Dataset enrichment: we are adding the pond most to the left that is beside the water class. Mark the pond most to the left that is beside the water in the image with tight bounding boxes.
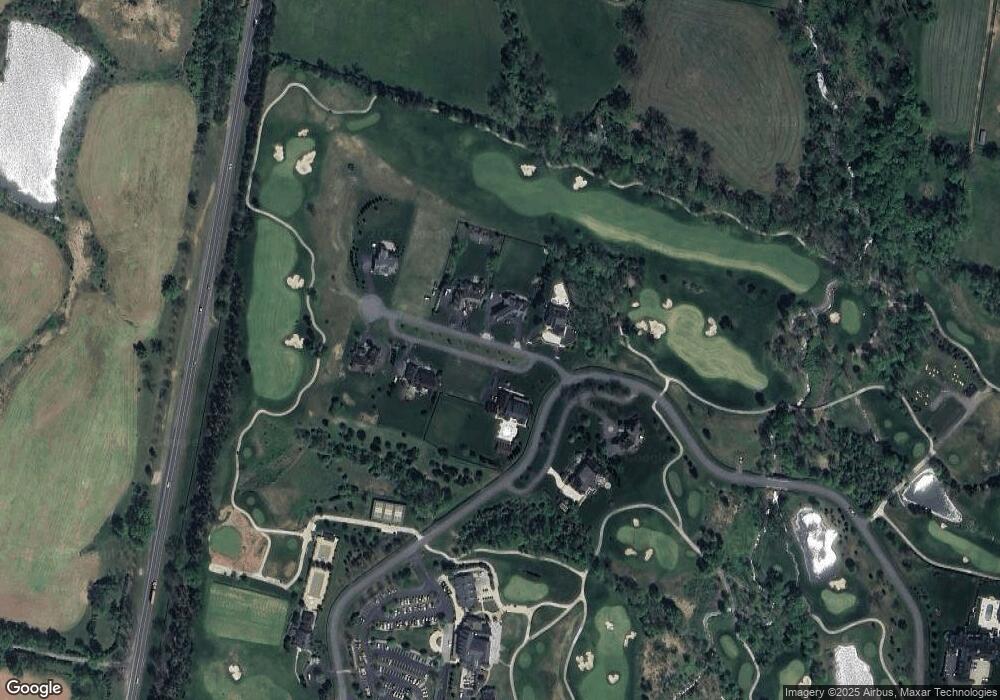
[0,21,92,207]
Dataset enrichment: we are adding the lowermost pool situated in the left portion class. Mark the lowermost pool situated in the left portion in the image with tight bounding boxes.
[305,566,329,608]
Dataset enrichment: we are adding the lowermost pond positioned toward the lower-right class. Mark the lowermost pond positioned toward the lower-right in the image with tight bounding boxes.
[833,643,876,700]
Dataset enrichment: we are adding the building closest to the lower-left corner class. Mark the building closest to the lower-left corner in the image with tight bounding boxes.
[289,610,316,654]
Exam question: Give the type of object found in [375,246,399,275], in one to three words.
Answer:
house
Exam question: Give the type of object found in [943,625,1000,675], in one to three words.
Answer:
house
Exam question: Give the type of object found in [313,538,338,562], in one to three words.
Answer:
swimming pool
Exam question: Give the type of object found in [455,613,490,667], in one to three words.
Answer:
building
